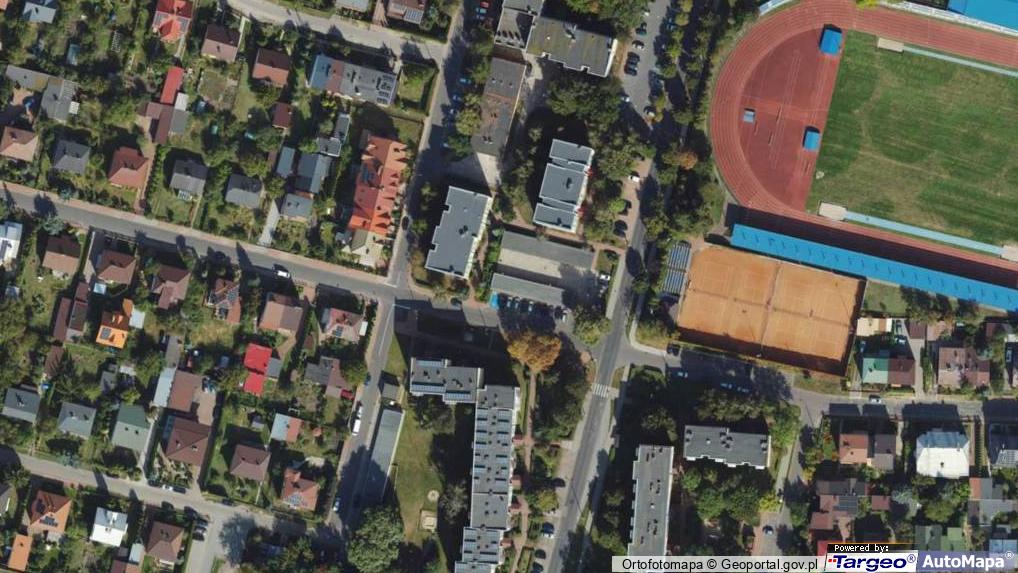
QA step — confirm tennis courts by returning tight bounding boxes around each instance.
[802,272,866,376]
[719,255,781,356]
[677,246,741,347]
[761,264,823,366]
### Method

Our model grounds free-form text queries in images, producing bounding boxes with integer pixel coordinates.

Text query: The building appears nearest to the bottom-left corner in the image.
[8,534,32,571]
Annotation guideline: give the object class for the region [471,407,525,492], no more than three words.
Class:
building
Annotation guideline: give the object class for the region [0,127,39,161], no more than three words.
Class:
house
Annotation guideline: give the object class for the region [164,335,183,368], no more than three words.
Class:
shed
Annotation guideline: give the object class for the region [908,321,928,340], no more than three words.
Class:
building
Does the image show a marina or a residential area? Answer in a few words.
residential area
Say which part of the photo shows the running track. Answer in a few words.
top right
